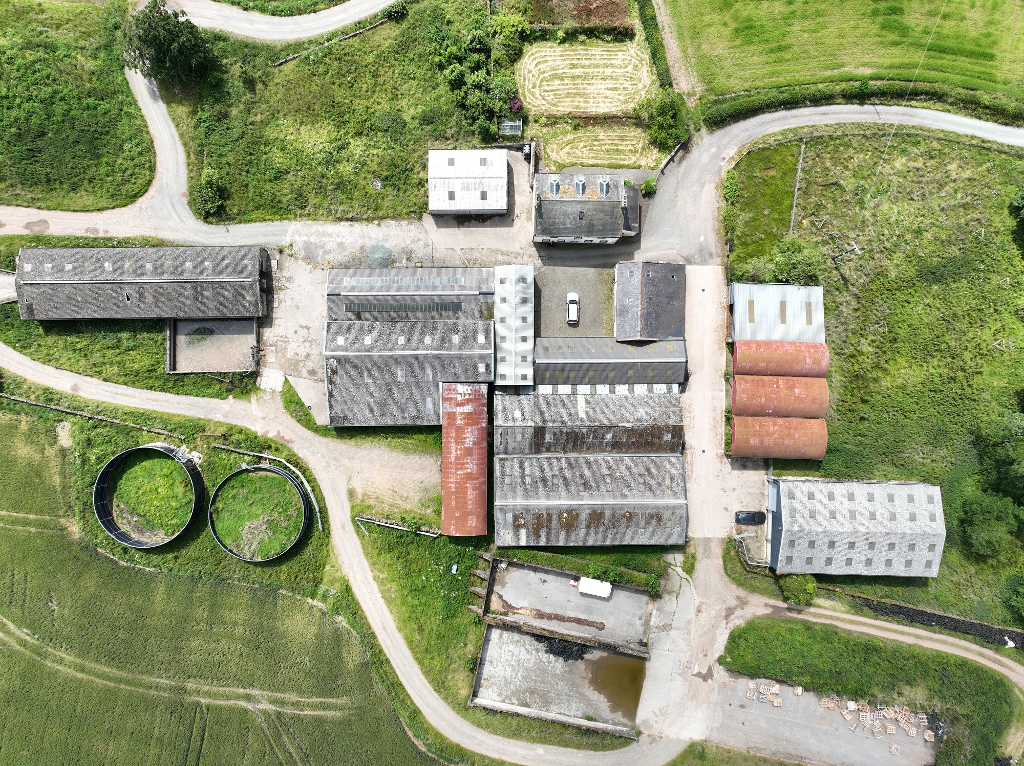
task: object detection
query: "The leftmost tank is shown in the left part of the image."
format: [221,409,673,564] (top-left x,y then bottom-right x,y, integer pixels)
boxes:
[93,445,204,549]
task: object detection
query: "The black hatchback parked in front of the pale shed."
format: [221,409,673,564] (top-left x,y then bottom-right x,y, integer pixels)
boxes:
[734,510,766,526]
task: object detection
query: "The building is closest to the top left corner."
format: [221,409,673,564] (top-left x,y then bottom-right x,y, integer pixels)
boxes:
[15,245,268,320]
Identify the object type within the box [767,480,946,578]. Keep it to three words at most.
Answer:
shed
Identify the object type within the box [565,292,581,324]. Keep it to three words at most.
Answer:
car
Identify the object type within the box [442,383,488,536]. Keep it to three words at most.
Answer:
barn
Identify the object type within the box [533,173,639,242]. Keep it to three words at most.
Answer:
house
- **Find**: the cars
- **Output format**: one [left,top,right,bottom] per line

[565,292,581,324]
[734,510,766,526]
